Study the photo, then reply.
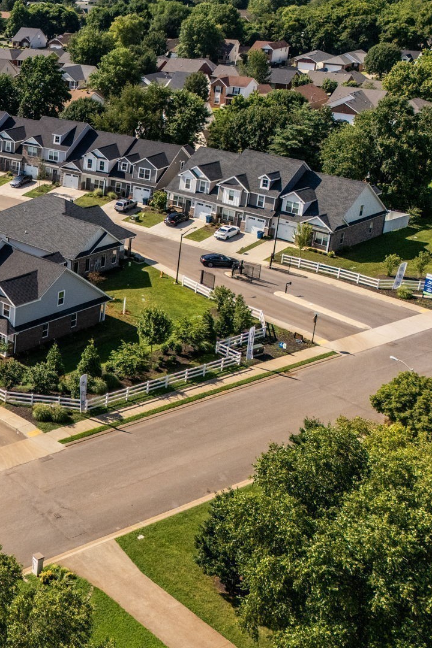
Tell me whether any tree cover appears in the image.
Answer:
Yes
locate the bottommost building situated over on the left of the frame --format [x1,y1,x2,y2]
[0,243,119,358]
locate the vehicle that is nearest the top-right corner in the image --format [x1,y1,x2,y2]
[216,223,239,238]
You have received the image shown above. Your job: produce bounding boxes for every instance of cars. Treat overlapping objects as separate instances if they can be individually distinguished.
[216,223,239,238]
[7,174,30,186]
[164,210,186,224]
[196,253,238,270]
[113,195,136,211]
